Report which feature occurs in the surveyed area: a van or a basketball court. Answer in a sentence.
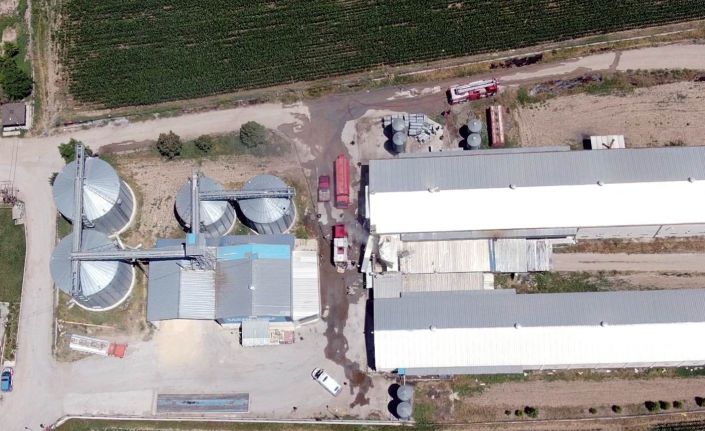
I can see a van in this picture.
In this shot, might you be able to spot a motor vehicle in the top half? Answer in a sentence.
Yes, there is a motor vehicle in the top half.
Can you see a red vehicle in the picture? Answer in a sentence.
Yes, the image includes a red vehicle.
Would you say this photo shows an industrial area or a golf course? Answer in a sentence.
What you see here is an industrial area.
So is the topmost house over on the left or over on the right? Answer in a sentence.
You can find the topmost house on the left side of the picture.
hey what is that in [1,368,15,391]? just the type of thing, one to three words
car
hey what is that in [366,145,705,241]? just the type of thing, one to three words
shed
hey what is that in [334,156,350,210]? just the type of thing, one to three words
vehicle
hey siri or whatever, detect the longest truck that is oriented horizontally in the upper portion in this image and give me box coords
[446,83,499,106]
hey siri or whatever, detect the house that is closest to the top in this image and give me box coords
[1,101,34,136]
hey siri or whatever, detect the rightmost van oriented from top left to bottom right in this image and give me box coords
[312,366,342,397]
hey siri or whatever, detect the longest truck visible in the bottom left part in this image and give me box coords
[67,334,131,362]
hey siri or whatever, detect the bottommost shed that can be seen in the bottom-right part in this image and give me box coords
[372,289,705,377]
